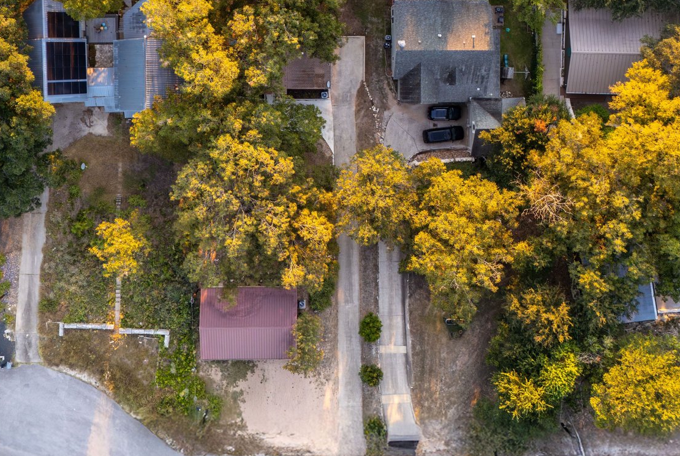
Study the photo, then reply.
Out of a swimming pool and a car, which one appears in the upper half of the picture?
car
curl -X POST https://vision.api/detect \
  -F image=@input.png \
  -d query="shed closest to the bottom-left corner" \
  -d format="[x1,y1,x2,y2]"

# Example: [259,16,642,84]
[200,284,298,361]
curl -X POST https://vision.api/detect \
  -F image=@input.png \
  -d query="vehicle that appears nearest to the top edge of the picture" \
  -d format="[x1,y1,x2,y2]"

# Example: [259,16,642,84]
[427,105,463,123]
